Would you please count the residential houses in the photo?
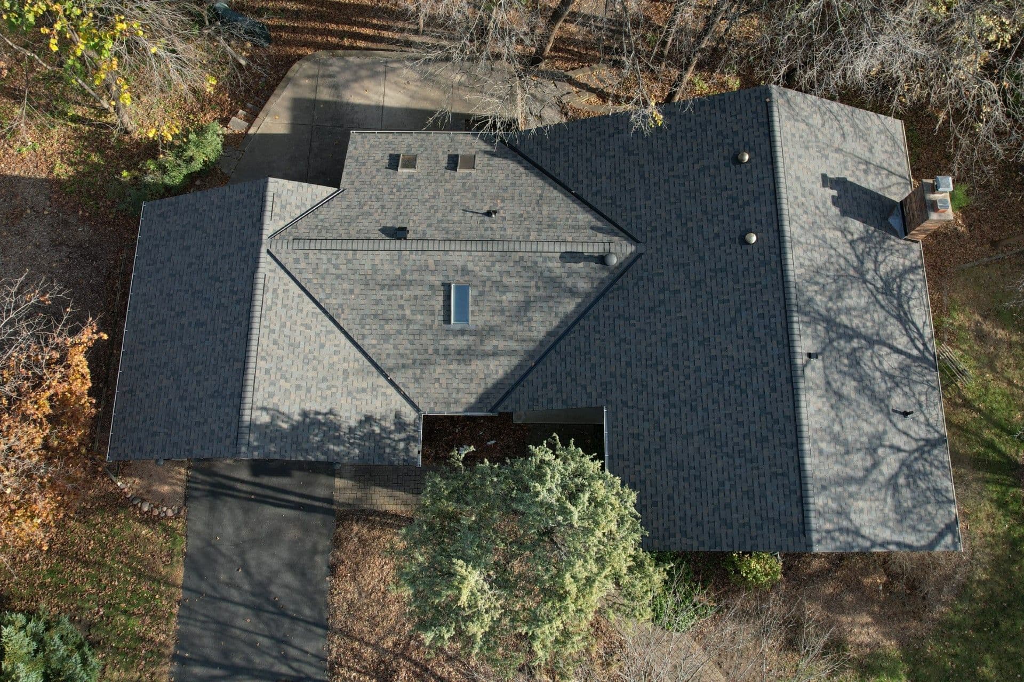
1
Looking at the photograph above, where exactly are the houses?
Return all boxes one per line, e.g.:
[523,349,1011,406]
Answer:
[105,83,966,559]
